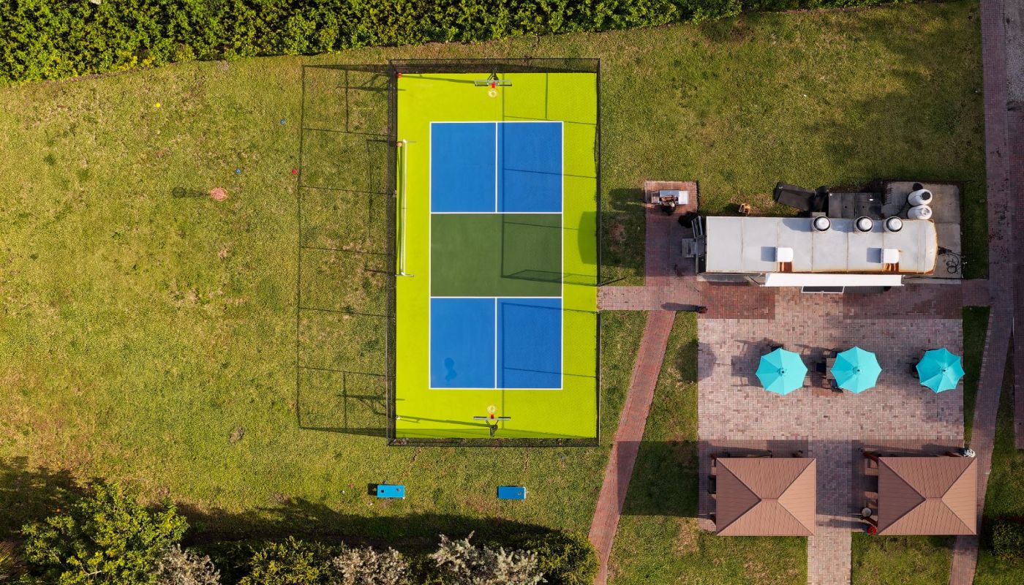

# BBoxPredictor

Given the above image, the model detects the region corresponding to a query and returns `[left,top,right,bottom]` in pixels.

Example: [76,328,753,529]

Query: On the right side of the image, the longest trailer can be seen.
[693,214,948,286]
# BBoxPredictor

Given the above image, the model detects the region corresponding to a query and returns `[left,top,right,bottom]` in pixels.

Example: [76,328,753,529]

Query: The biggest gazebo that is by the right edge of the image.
[862,451,978,536]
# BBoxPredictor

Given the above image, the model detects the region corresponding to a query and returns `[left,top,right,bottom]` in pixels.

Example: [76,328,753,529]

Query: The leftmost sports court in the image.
[397,73,597,438]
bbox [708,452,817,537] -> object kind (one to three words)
gazebo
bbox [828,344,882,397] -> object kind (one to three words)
umbrella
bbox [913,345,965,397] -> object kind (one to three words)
umbrella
